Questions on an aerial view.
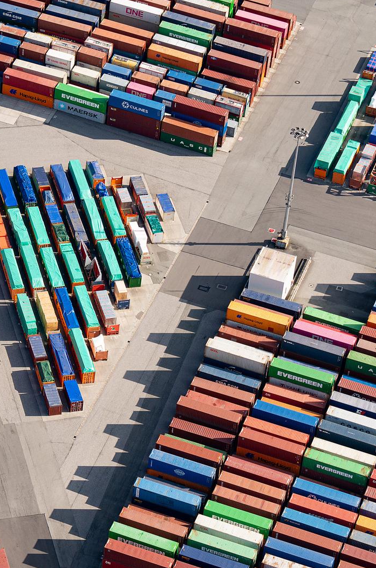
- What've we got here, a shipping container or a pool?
shipping container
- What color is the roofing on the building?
white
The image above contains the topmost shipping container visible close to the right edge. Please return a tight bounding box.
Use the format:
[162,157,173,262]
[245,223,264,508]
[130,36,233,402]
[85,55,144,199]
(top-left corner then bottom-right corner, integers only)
[346,73,372,114]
